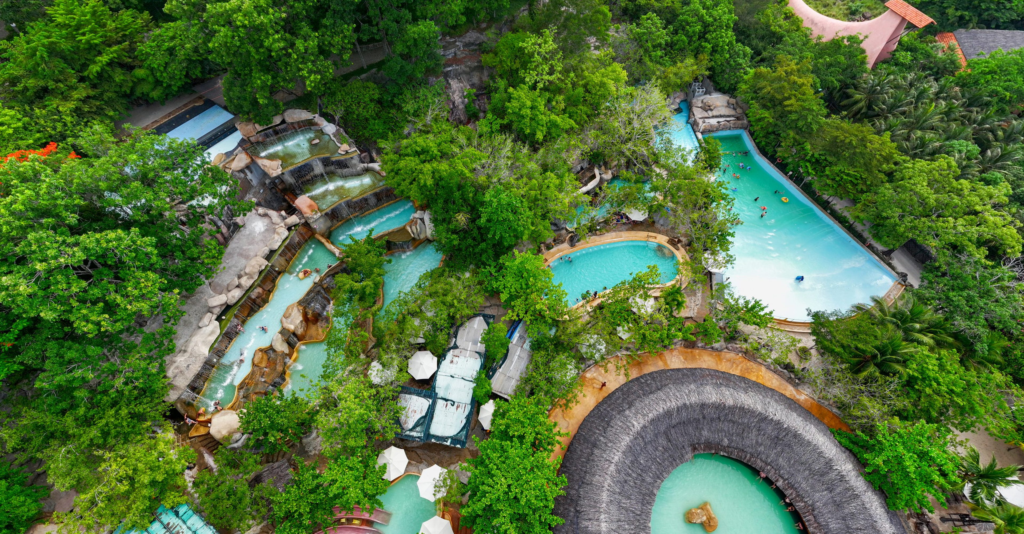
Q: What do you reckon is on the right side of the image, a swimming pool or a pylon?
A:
swimming pool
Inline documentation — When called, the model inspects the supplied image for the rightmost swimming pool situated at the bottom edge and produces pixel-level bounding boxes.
[650,453,808,534]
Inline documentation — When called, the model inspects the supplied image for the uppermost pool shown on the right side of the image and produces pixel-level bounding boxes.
[651,104,716,192]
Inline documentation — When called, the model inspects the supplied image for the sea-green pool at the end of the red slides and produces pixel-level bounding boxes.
[366,470,445,534]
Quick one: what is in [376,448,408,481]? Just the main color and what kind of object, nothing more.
white umbrella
